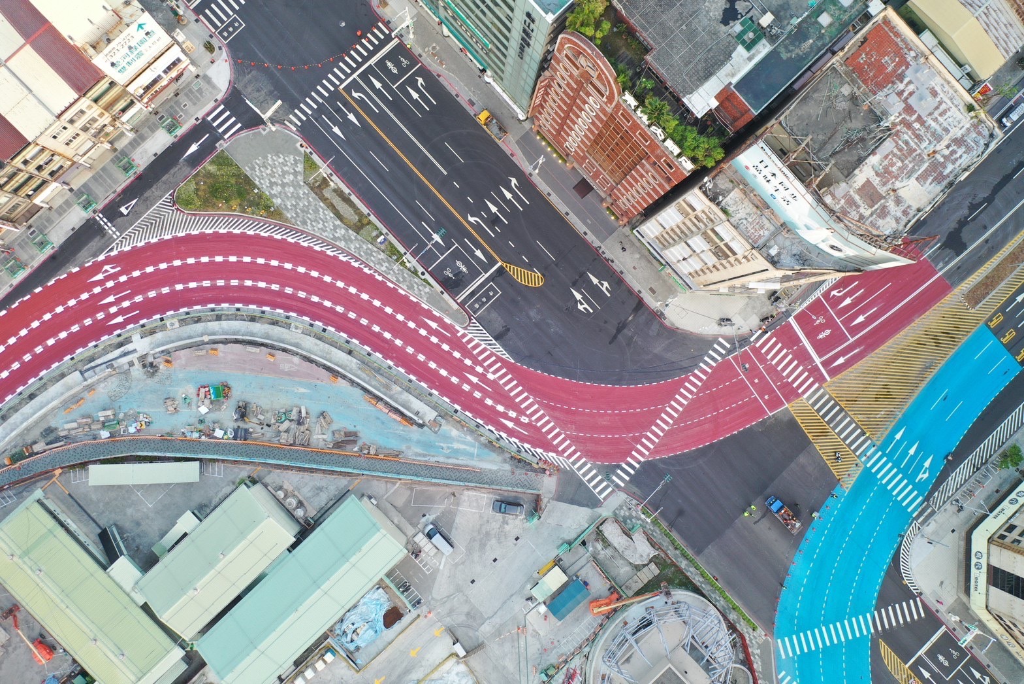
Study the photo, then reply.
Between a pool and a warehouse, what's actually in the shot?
warehouse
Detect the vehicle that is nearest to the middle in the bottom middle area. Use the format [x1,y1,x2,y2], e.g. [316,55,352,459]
[494,501,526,516]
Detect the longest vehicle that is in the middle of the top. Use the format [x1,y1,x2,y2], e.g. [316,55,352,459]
[477,106,508,141]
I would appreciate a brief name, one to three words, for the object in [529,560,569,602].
building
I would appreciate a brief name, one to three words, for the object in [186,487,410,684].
warehouse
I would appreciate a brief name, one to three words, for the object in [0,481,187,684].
warehouse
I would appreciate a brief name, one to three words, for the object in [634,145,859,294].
building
